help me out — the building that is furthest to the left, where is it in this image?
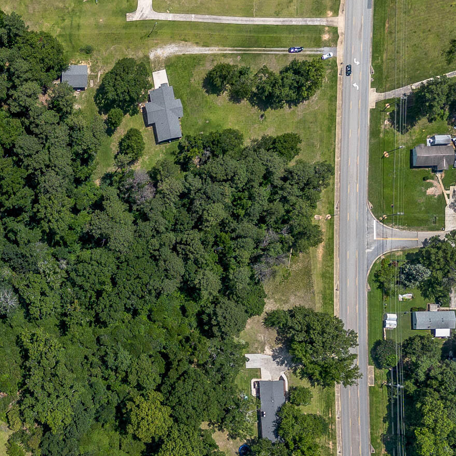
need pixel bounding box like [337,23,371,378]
[62,64,87,90]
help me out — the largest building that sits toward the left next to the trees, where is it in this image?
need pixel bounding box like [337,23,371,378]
[144,83,184,144]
